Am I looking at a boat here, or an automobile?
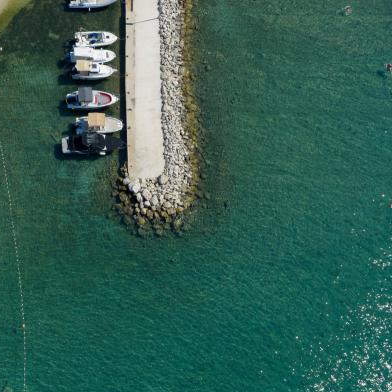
boat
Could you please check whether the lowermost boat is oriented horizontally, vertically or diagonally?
horizontally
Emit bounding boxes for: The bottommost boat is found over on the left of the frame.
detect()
[57,133,128,158]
